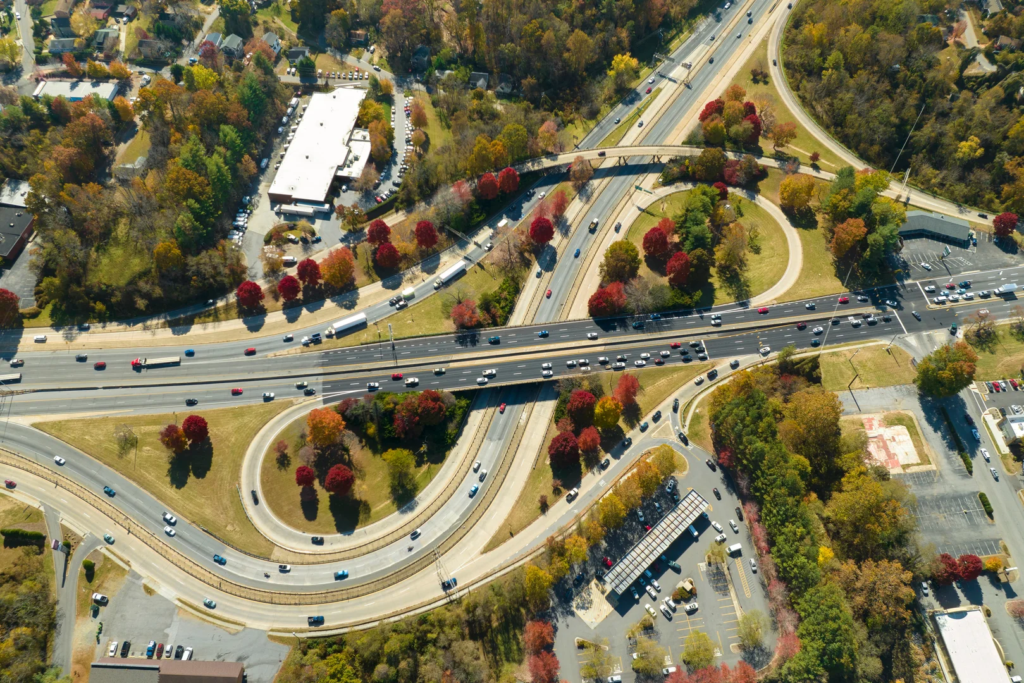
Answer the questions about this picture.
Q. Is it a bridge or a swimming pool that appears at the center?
bridge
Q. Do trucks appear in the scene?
Yes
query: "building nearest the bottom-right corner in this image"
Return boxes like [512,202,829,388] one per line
[927,605,1010,683]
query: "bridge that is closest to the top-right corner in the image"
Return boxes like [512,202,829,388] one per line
[472,143,779,186]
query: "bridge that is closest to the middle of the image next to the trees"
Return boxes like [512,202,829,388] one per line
[430,314,623,393]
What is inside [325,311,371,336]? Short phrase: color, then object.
white truck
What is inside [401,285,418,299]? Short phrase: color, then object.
white vehicle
